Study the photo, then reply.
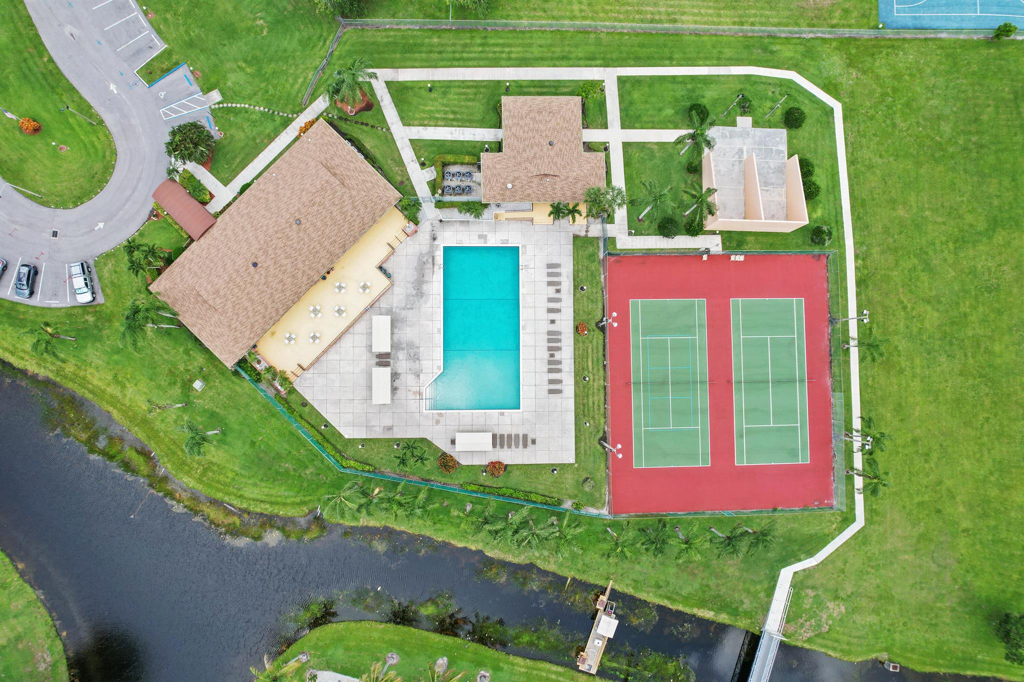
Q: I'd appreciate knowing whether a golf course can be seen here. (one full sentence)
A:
No, this view has no golf course in it.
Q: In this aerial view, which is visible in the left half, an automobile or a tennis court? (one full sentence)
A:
Visible in the left half is an automobile.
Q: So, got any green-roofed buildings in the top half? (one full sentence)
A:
No, no green-roofed building appears in the top half.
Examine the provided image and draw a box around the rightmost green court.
[726,298,817,466]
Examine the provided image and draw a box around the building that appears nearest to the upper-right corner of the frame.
[481,96,606,203]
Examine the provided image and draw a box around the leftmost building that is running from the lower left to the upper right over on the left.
[151,119,402,368]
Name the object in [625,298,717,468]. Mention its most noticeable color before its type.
green tennis court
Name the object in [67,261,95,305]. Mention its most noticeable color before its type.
white car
